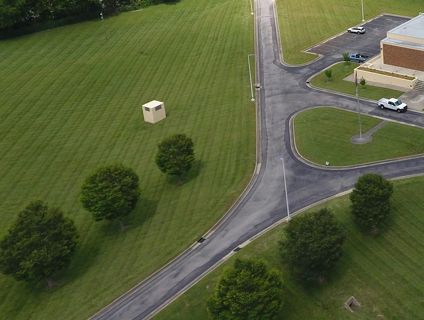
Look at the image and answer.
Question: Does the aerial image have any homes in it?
Yes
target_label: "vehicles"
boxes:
[348,50,373,63]
[349,25,370,34]
[377,97,411,113]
